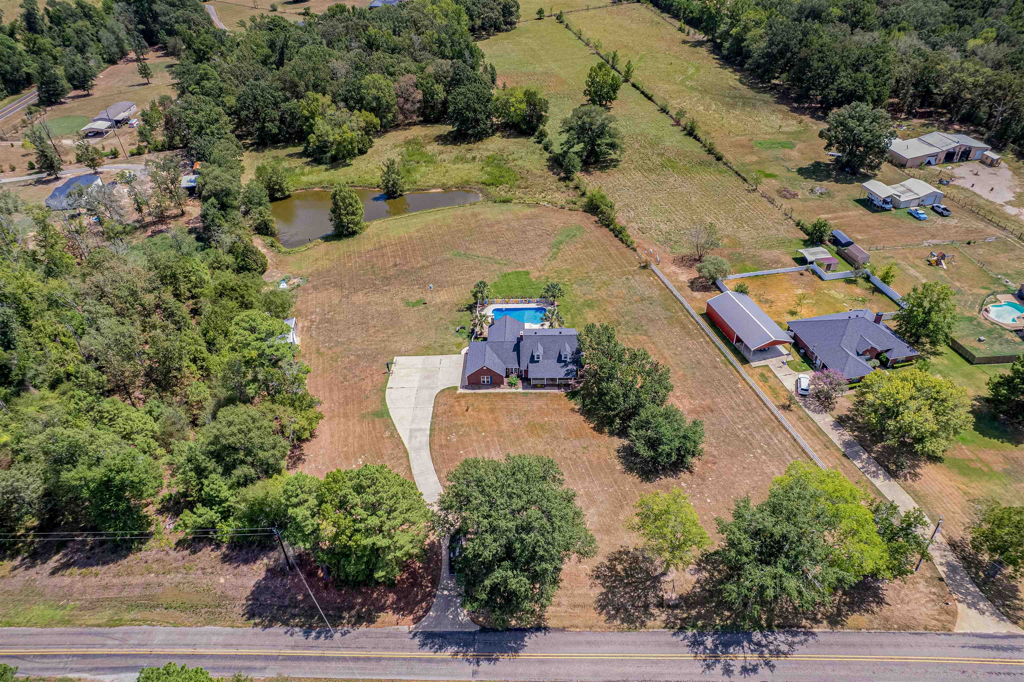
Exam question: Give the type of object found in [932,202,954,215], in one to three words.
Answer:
vehicle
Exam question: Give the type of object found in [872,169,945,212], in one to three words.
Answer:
building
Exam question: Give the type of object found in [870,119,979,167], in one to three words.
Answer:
building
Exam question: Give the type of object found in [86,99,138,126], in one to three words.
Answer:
house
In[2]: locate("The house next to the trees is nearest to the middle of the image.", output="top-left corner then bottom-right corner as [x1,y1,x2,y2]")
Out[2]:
[465,311,580,387]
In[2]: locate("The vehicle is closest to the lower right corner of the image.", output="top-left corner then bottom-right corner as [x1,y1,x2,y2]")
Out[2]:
[798,376,811,397]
